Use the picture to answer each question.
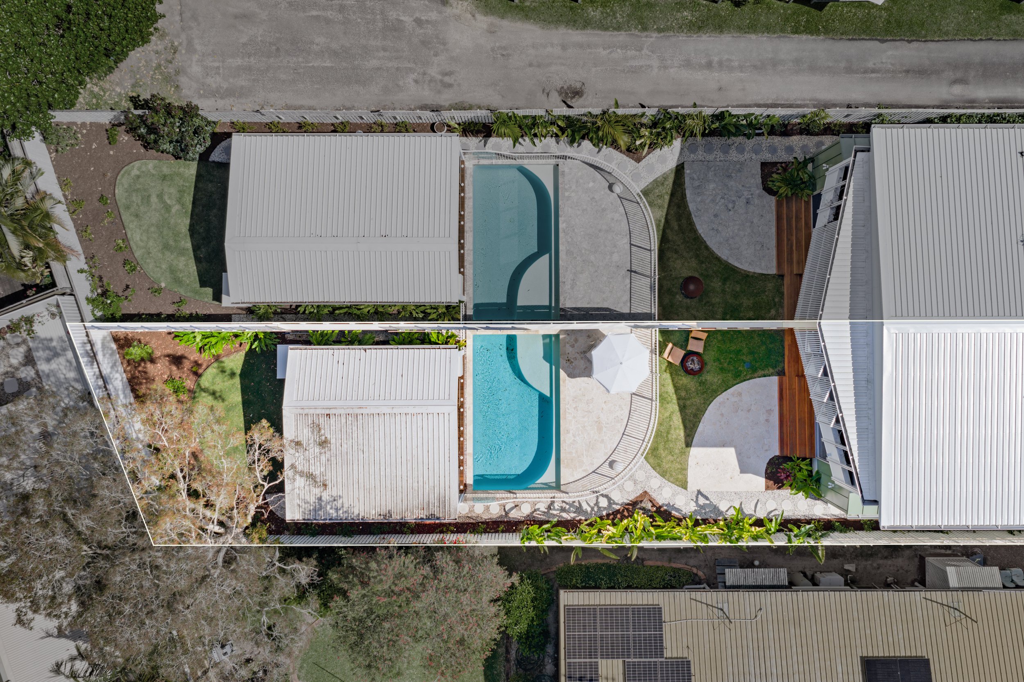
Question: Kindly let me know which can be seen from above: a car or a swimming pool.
swimming pool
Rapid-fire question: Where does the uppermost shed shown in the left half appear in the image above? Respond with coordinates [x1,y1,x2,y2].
[221,129,465,309]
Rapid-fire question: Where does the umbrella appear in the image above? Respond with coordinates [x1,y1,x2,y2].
[589,332,650,393]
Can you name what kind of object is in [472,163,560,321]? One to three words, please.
swimming pool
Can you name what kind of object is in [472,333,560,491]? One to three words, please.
swimming pool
